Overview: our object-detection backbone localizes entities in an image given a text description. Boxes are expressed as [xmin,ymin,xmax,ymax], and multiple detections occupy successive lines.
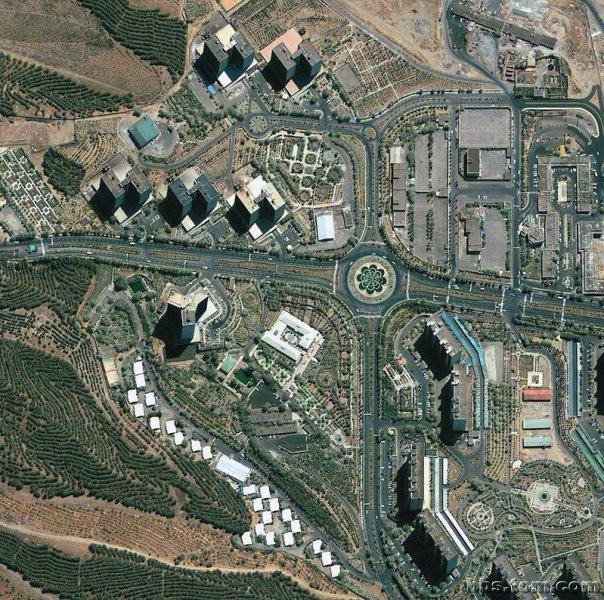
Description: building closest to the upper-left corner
[127,114,160,151]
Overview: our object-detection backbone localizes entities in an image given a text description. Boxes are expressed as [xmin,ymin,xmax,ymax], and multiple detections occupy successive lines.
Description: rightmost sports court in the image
[488,341,504,382]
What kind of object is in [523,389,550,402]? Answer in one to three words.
shed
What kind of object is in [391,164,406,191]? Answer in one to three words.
building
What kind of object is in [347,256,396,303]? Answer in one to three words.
roundabout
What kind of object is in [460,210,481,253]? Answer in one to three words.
building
